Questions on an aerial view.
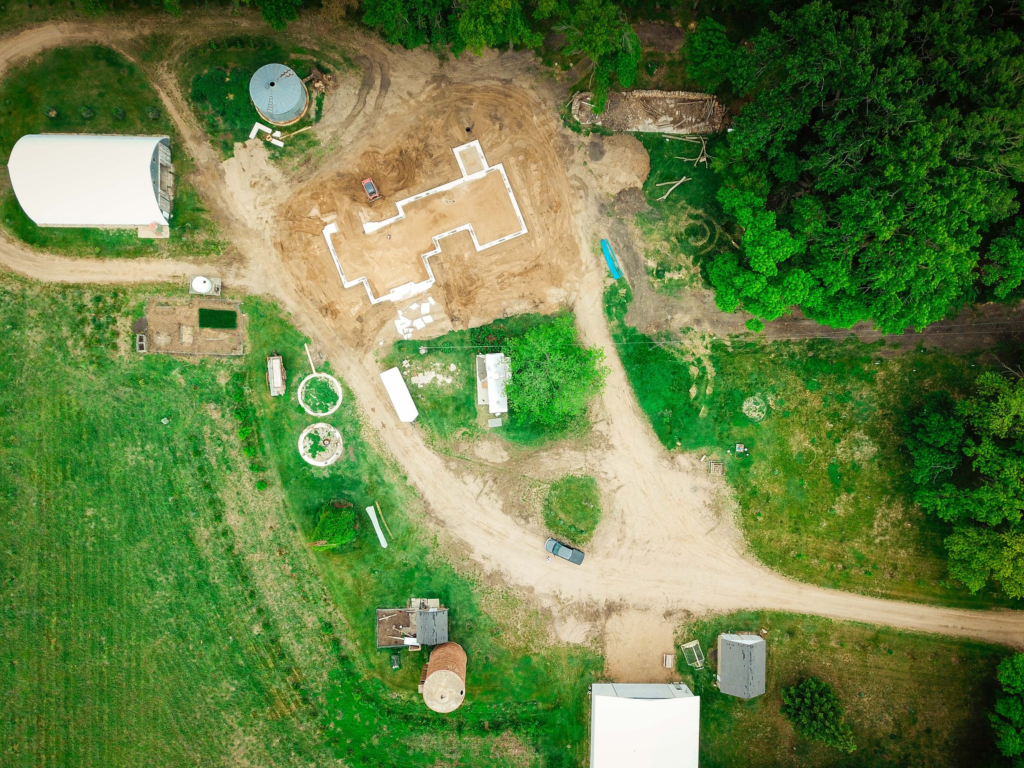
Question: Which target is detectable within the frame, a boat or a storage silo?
storage silo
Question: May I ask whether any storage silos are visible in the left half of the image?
Yes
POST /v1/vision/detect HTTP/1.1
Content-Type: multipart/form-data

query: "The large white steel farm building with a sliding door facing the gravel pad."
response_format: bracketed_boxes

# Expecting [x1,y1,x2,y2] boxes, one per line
[591,686,700,768]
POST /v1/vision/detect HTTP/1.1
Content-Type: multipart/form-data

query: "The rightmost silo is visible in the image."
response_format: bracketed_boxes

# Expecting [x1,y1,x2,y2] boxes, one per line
[416,641,467,714]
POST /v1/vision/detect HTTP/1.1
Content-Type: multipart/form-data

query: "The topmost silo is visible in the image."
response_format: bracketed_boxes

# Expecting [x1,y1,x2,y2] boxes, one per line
[250,64,310,125]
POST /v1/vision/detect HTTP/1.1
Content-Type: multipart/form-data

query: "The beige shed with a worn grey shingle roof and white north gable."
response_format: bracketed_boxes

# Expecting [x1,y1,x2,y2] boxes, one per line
[716,635,766,699]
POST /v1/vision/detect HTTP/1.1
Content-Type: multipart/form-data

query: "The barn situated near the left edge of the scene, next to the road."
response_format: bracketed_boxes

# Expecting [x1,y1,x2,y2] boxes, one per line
[8,128,175,228]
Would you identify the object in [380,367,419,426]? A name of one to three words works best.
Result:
trailer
